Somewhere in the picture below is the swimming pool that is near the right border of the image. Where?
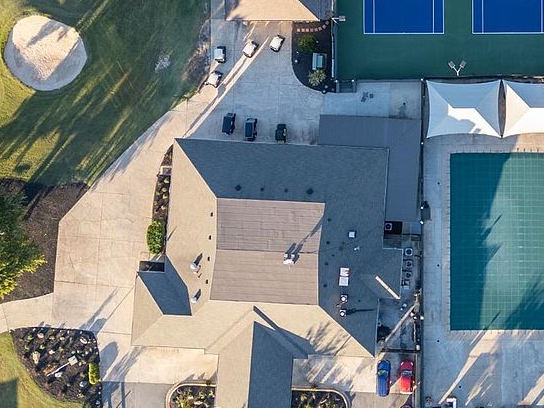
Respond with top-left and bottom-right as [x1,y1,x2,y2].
[422,80,544,408]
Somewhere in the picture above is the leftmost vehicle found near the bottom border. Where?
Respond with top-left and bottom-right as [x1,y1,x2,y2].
[375,361,391,398]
